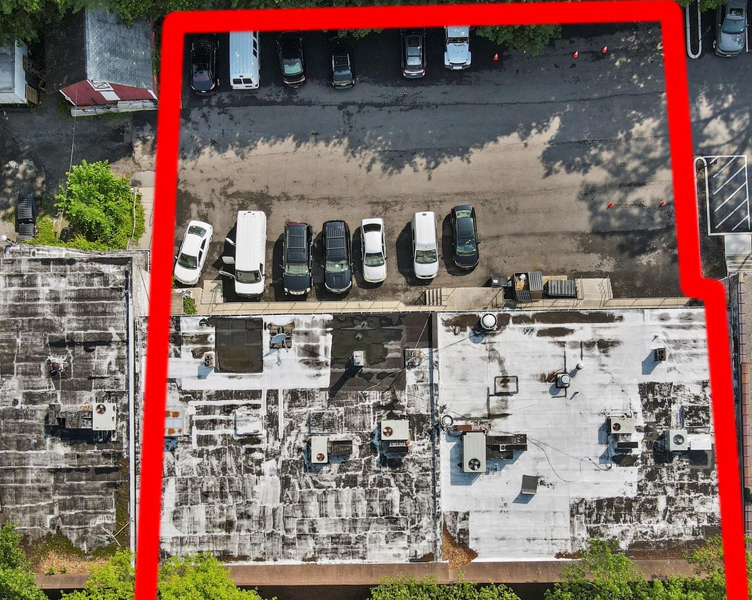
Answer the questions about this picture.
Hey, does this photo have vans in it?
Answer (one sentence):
Yes, there is a van in the image.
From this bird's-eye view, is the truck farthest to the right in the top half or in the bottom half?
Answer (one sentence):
Seen from above, the truck farthest to the right lies in the top half of the view.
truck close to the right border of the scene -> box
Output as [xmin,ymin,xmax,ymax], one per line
[714,0,751,59]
